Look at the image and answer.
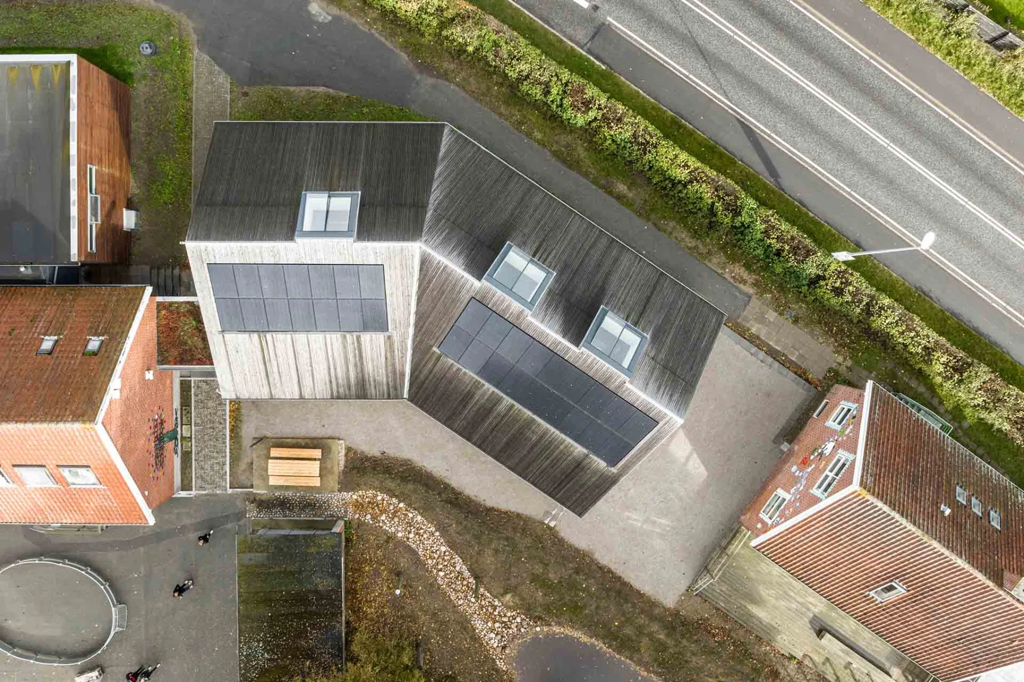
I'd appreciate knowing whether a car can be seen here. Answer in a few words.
No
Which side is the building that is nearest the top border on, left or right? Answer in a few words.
left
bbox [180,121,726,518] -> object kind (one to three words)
building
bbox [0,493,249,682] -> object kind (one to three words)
playground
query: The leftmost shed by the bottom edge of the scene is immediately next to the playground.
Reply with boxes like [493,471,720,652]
[237,516,348,682]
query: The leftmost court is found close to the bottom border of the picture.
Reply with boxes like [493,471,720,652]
[0,555,120,666]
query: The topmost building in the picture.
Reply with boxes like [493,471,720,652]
[0,54,132,267]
